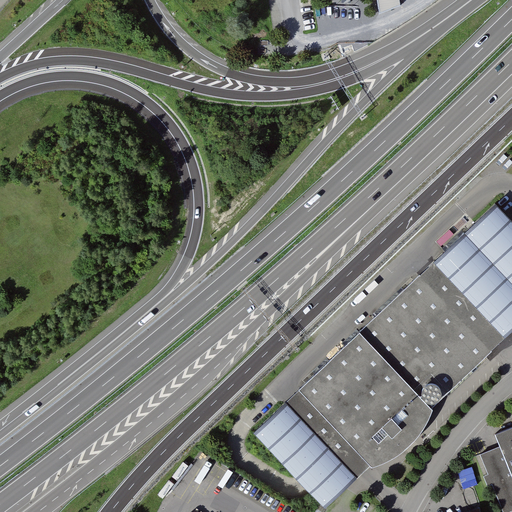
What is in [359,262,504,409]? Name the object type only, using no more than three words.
building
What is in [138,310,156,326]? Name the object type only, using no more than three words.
vehicle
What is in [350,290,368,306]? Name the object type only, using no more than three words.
vehicle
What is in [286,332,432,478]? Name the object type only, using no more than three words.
building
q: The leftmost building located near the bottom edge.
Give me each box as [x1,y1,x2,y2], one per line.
[256,402,358,508]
